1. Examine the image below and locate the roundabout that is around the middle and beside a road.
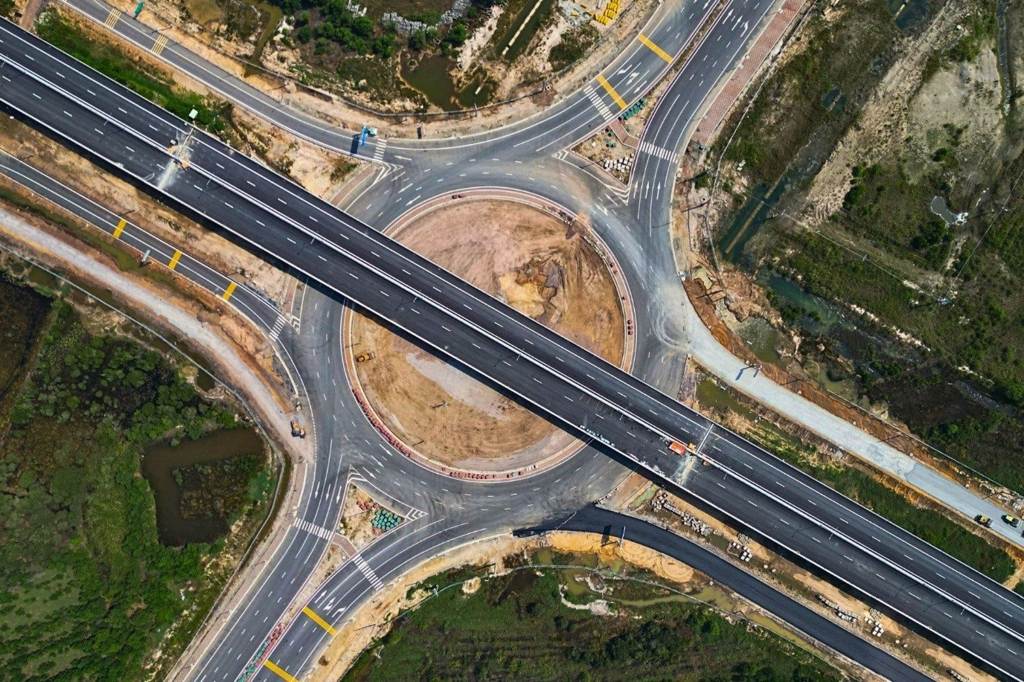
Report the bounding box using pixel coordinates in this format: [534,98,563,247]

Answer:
[289,151,687,530]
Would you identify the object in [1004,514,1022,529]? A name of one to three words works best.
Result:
work vehicle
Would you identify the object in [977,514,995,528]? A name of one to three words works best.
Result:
work vehicle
